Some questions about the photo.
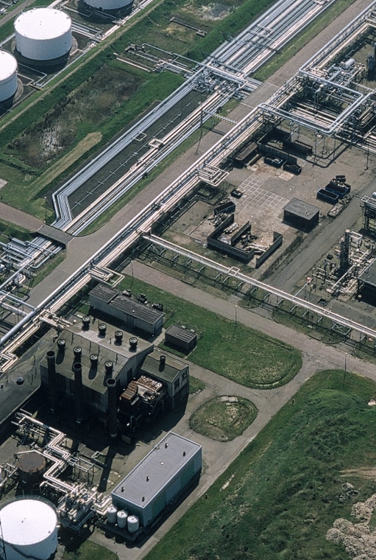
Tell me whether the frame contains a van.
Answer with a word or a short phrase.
No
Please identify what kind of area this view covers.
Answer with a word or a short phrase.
industrial area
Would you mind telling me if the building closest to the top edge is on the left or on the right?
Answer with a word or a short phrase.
right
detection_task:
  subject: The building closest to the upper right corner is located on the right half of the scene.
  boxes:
[234,143,260,166]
